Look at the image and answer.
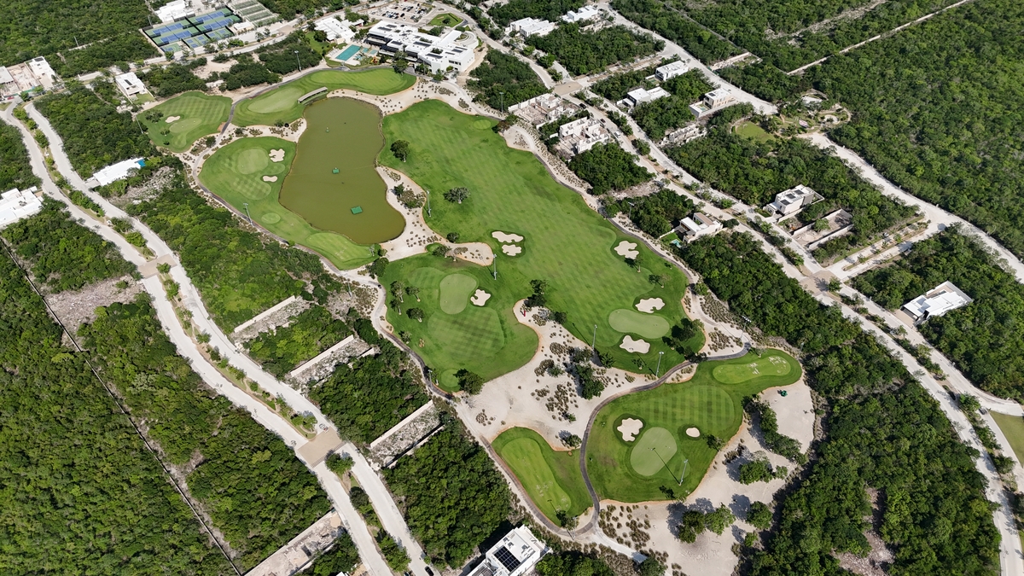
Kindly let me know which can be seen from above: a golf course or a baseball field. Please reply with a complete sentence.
There is a golf course in the scene.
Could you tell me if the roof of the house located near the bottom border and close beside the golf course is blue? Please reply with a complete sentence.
No, the roof of the house located near the bottom border and close beside the golf course is white.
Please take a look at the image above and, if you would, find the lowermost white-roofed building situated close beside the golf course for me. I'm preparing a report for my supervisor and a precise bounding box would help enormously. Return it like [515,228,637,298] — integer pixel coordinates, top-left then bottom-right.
[468,524,548,576]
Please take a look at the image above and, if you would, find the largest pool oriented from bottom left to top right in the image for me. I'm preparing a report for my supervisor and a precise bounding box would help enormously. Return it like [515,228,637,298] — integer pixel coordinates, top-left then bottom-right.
[335,44,362,60]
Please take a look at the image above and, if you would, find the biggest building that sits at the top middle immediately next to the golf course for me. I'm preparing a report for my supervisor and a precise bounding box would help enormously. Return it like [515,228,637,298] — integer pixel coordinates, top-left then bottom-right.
[365,20,479,71]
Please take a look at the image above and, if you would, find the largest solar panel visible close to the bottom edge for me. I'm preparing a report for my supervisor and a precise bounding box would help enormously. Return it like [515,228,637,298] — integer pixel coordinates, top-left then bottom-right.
[494,545,519,571]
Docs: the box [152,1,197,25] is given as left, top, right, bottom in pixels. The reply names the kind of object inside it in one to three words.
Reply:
building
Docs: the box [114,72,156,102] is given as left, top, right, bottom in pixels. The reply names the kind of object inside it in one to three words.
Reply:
house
